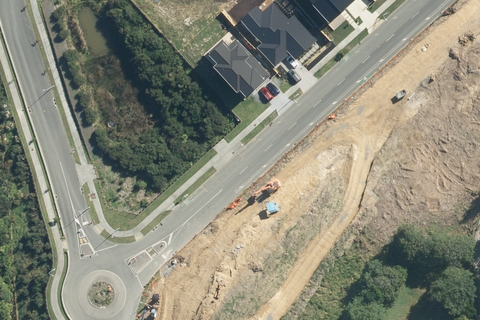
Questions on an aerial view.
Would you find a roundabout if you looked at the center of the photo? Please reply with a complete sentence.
No, there's no roundabout to be seen at the center of the photo.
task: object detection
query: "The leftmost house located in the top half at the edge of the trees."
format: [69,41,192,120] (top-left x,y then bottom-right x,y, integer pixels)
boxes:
[208,39,271,98]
